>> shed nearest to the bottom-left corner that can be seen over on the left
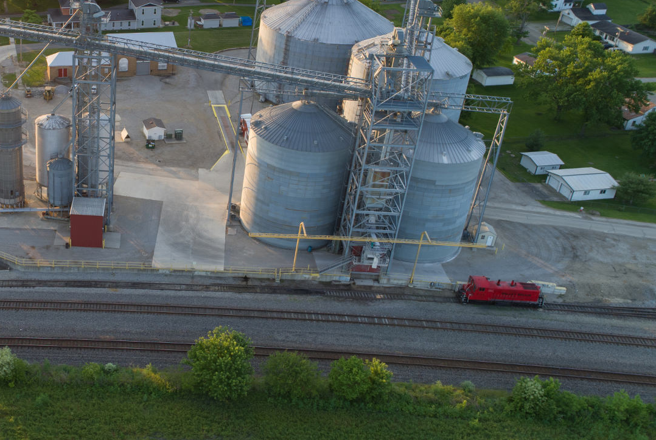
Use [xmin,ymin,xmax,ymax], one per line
[68,194,106,247]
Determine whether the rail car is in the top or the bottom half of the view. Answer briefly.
bottom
